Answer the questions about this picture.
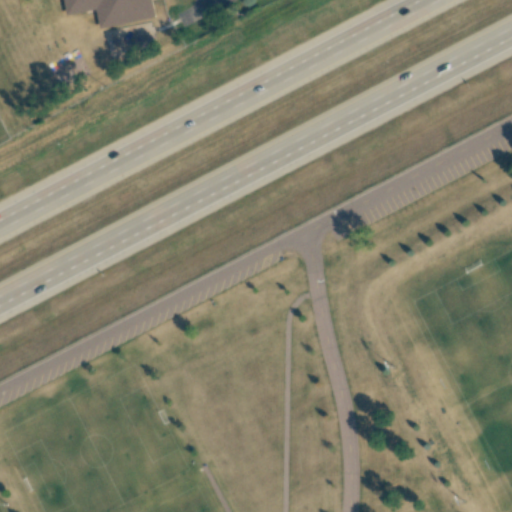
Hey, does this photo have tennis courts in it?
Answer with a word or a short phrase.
No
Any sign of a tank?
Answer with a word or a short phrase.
No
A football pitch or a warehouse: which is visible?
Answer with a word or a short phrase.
football pitch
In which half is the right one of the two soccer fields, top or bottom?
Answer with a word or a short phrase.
bottom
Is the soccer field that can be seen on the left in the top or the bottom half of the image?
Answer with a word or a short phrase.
bottom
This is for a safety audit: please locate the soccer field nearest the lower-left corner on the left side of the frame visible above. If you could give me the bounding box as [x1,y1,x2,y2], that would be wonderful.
[5,364,188,512]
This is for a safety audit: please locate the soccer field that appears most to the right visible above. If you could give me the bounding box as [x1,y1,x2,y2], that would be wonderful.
[416,250,512,486]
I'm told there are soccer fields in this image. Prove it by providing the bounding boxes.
[5,364,188,512]
[416,250,512,486]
